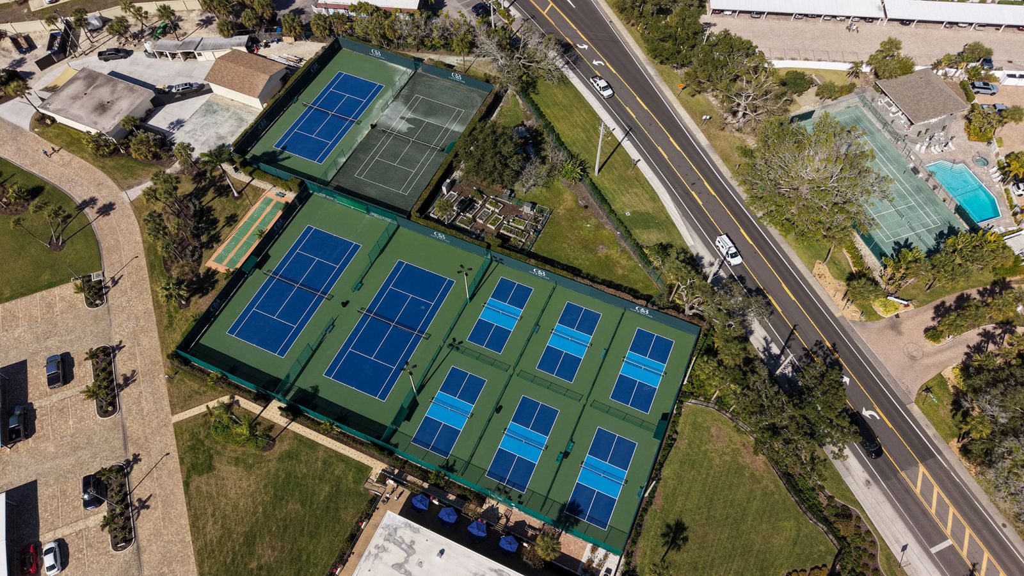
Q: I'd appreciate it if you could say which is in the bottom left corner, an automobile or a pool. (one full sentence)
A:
The one visible in the bottom left corner is an automobile.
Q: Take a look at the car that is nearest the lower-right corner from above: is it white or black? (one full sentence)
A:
The car that is nearest the lower-right corner is black.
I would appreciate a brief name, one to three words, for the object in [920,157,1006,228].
swimming pool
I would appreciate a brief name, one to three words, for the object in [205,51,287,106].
building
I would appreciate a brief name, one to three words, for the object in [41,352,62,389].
truck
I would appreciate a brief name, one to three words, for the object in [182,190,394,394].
tennis court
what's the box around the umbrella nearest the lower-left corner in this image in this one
[410,494,431,515]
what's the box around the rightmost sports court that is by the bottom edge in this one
[538,400,659,554]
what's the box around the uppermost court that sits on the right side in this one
[789,102,968,264]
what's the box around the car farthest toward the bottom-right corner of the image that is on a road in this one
[851,412,885,454]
